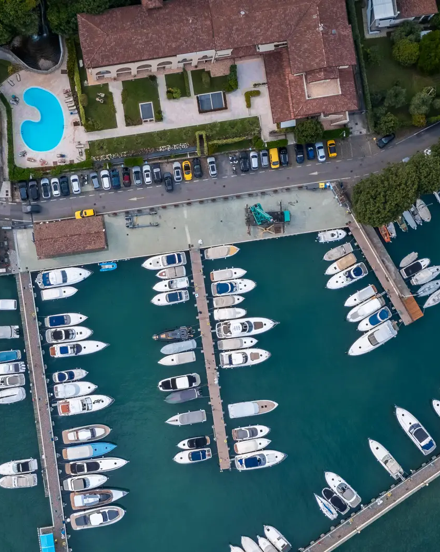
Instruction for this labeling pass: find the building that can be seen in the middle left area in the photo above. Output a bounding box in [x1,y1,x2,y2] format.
[33,215,107,259]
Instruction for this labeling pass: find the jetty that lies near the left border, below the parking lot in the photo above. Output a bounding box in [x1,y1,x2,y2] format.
[16,271,69,552]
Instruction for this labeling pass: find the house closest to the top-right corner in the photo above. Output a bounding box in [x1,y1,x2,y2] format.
[364,0,438,38]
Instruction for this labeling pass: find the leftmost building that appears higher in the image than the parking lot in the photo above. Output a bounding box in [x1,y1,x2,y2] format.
[76,0,357,126]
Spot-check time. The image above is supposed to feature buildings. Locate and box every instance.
[364,0,438,38]
[33,215,107,259]
[76,0,357,126]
